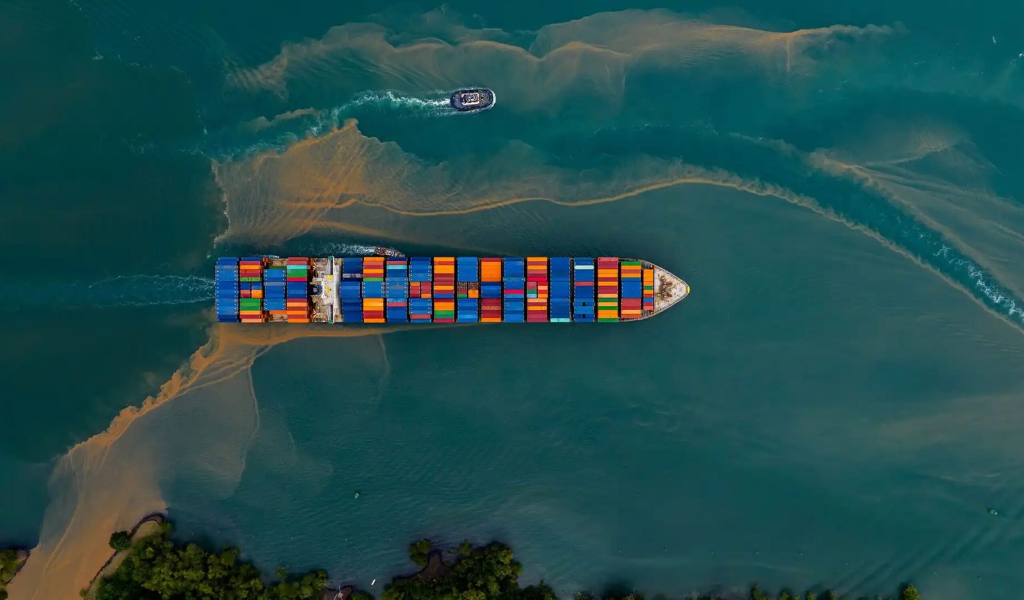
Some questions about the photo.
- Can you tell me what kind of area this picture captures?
port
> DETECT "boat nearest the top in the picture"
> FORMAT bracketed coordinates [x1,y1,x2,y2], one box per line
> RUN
[450,89,495,112]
